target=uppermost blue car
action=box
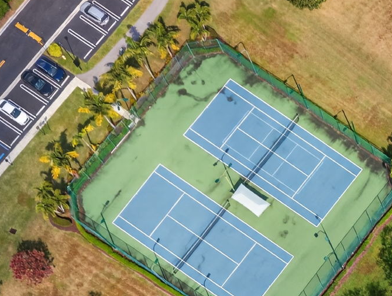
[34,54,67,80]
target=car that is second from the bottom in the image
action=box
[20,69,54,95]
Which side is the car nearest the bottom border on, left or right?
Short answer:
left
